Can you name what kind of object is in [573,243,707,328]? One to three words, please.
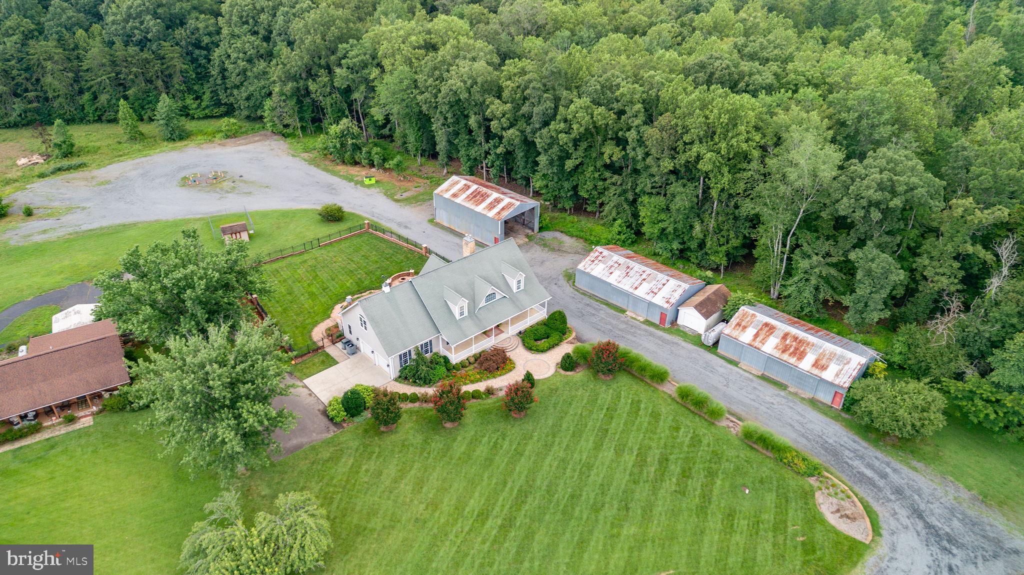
shed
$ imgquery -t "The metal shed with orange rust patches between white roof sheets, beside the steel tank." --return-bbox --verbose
[718,301,880,407]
